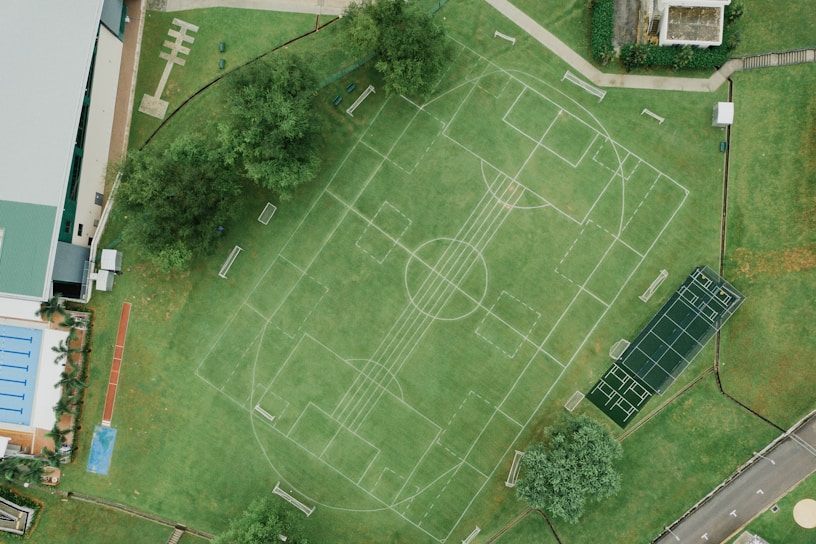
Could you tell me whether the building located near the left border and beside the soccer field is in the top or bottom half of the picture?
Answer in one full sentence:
Seen from above, the building located near the left border and beside the soccer field lies in the top half of the view.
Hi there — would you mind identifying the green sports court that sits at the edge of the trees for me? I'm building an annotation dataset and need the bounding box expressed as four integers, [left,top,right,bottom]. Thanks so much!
[586,266,737,429]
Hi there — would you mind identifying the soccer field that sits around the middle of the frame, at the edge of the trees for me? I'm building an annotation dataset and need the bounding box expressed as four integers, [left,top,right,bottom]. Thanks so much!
[197,29,689,541]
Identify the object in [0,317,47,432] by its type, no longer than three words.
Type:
swimming pool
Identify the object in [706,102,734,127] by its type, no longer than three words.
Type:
shed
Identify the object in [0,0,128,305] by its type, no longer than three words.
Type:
building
